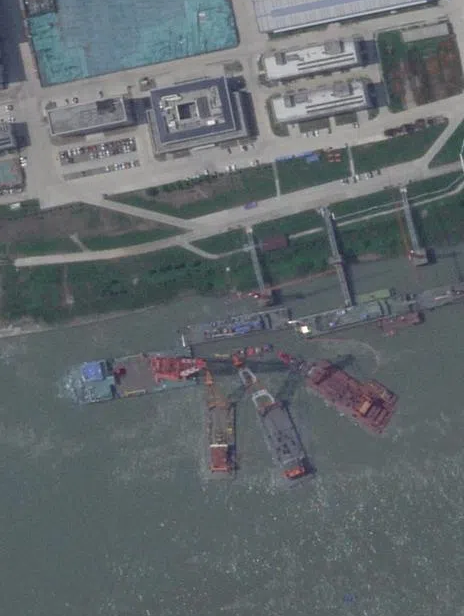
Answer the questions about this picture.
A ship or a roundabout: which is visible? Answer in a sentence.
Visible in the photo is a ship.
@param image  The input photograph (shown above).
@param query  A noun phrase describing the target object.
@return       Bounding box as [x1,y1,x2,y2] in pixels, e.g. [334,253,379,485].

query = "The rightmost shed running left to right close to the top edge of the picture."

[401,22,450,42]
